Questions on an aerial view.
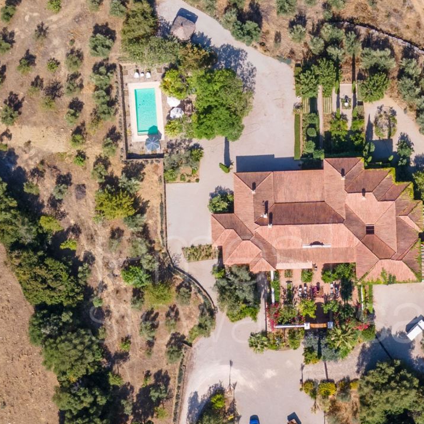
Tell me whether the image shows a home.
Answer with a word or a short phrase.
Yes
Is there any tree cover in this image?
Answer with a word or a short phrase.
Yes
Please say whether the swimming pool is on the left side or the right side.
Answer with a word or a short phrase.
left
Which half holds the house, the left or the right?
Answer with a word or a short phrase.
right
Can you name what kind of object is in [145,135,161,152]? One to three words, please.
umbrella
